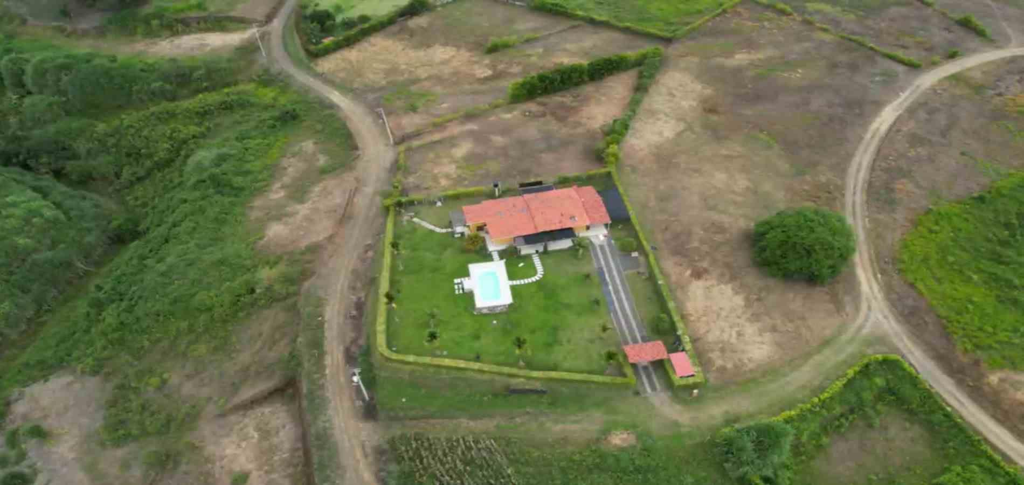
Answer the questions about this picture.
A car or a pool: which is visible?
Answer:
pool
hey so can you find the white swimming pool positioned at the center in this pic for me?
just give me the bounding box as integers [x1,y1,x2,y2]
[461,260,514,313]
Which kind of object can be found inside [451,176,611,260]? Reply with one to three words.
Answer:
house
